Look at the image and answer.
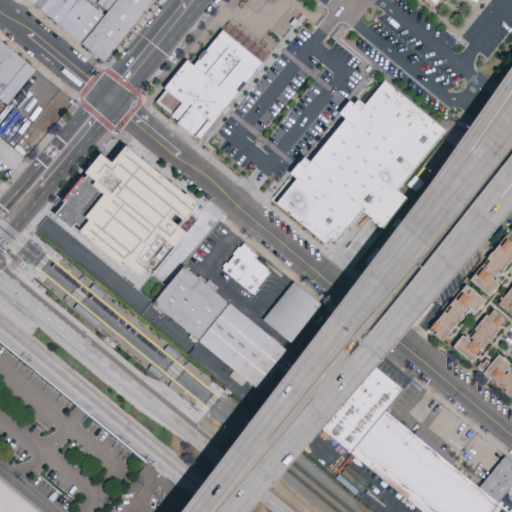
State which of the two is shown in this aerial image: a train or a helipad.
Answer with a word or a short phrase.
train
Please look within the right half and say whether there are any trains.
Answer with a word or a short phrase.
No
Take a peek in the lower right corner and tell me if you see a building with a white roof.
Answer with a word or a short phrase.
Yes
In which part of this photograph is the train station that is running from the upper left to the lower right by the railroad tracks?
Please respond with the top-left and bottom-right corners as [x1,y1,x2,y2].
[20,249,226,421]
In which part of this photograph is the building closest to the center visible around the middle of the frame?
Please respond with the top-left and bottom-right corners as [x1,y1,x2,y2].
[224,244,271,295]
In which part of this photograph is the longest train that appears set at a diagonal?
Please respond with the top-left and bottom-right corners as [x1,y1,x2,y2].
[52,263,167,358]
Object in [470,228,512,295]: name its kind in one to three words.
building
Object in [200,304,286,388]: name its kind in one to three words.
building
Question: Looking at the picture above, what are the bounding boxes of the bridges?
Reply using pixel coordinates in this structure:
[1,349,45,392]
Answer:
[182,68,512,512]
